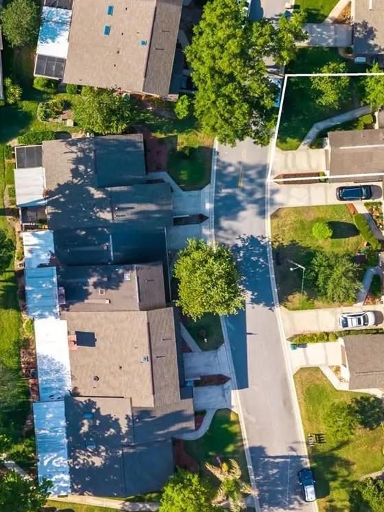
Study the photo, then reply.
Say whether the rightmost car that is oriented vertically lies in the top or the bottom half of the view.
bottom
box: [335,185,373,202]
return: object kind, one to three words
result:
car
